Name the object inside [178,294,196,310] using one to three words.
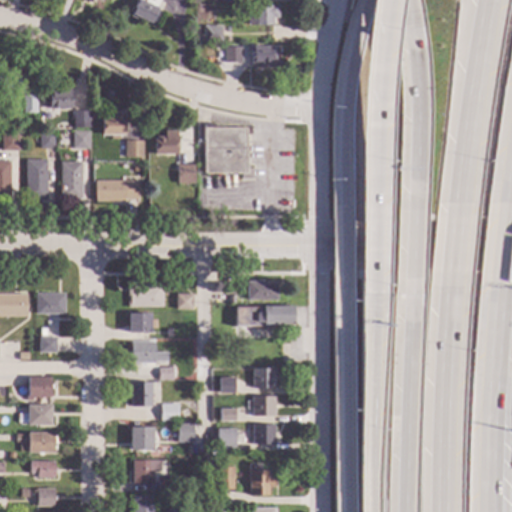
building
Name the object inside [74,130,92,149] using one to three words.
building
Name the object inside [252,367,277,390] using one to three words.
house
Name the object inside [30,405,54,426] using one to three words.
house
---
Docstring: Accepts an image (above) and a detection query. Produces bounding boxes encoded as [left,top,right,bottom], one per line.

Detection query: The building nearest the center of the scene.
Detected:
[249,278,281,300]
